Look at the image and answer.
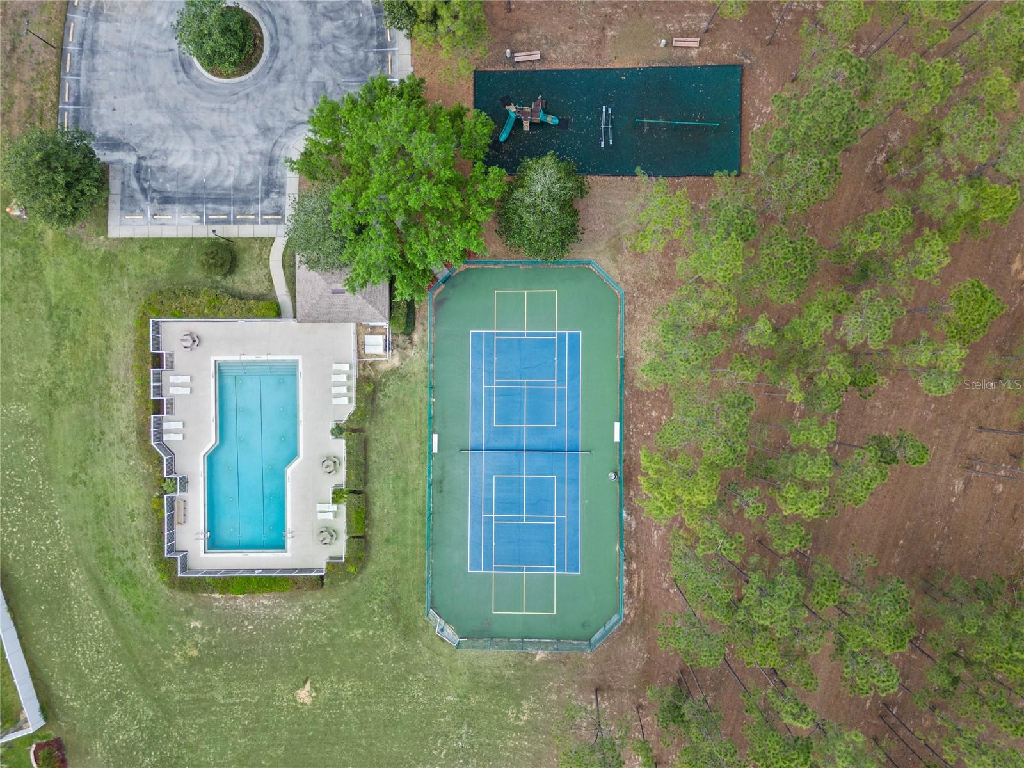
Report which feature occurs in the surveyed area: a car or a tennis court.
tennis court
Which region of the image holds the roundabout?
top left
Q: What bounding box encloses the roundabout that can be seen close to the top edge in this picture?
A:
[181,0,268,82]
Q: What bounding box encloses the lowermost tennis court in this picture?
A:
[432,267,618,639]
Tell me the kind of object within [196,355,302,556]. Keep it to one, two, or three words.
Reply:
swimming pool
